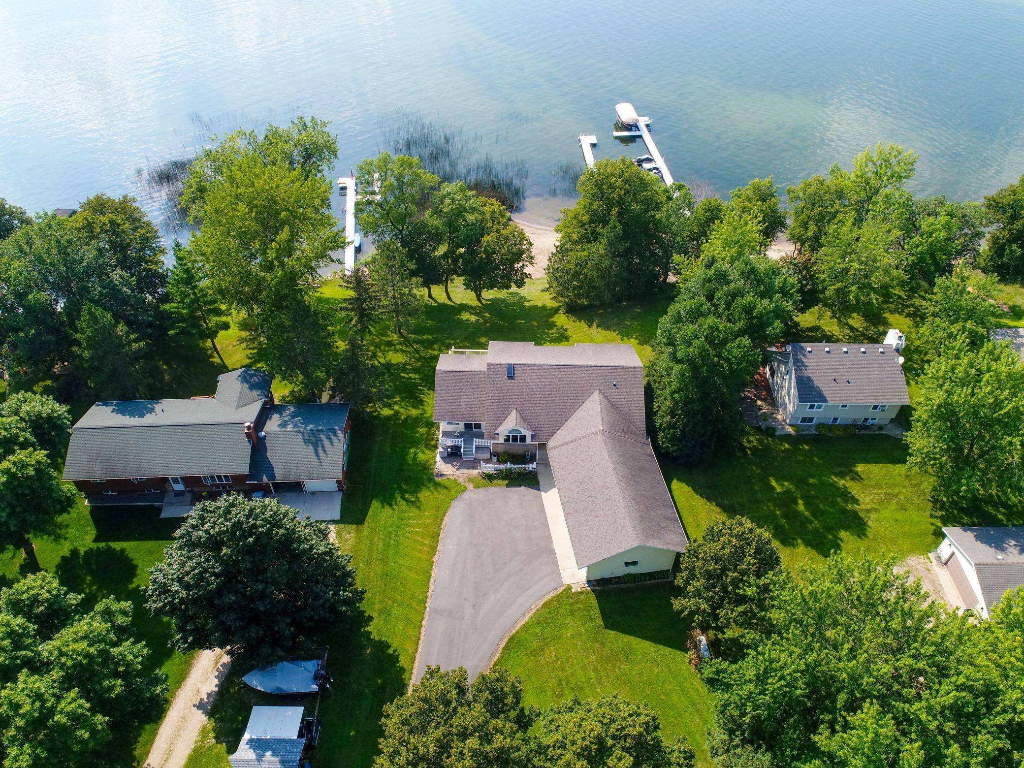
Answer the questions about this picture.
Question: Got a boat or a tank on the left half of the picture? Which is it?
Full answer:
The feature located on the left half of the picture is a boat.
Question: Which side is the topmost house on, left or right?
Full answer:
The topmost house is on the right side of the image.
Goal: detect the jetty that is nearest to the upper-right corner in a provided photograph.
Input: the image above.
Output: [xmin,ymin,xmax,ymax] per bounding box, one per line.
[613,112,679,193]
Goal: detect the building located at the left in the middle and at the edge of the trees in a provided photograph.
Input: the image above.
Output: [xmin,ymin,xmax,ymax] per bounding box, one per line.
[66,366,354,513]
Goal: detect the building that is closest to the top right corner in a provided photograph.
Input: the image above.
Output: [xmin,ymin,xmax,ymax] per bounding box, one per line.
[768,323,915,425]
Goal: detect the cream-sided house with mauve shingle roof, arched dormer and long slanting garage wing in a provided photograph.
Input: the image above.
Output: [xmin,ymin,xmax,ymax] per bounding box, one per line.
[433,342,685,580]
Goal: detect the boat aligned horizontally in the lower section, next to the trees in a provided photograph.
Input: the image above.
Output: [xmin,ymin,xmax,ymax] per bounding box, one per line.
[243,662,327,692]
